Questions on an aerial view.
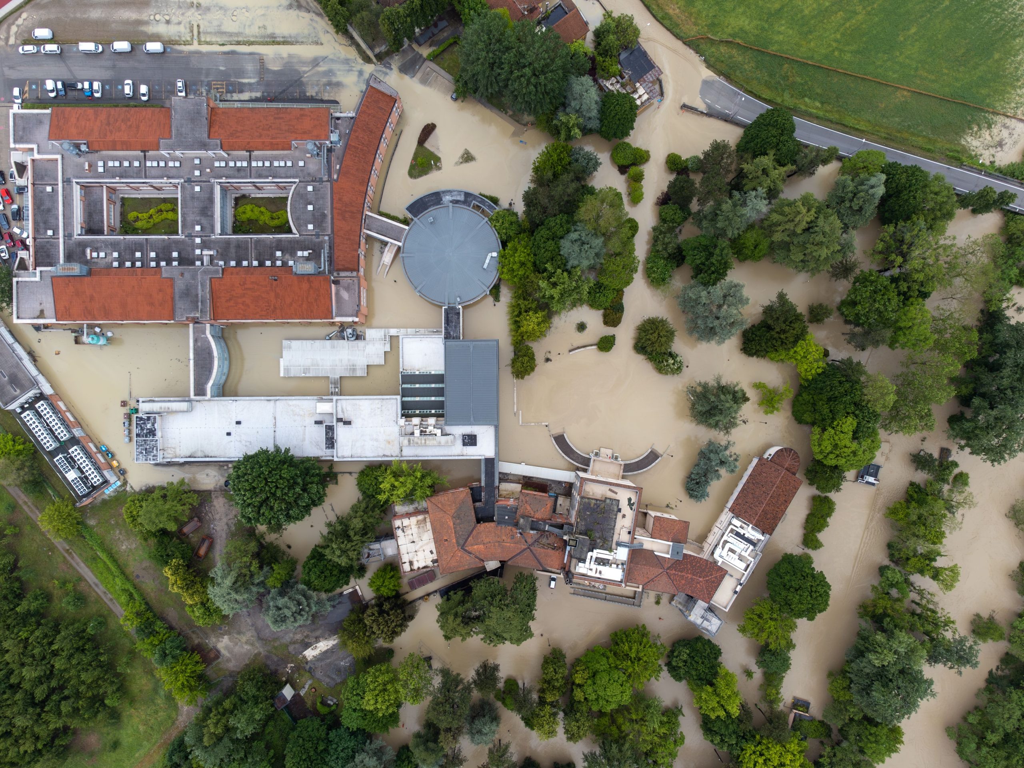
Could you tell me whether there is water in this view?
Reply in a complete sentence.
Yes, water shows up in the scene.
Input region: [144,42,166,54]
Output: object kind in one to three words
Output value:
vehicle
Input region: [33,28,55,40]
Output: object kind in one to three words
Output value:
vehicle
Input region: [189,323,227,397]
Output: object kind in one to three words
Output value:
building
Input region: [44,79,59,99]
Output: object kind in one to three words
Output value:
car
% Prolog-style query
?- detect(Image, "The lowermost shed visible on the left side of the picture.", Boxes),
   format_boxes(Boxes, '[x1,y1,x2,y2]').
[276,678,299,709]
